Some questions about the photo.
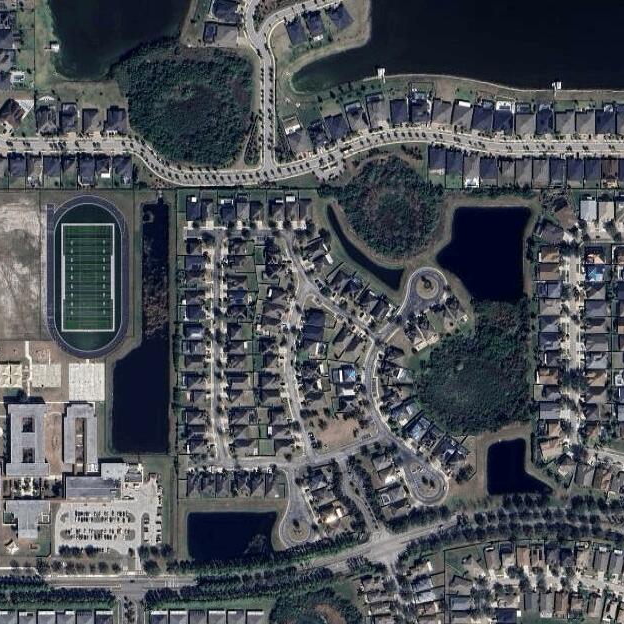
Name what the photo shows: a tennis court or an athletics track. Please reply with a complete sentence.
I can see an athletics track in this picture.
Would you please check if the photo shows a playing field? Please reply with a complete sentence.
Yes, looking at the shot, I can spot a playing field.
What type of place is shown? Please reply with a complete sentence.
The picture captures a residential area.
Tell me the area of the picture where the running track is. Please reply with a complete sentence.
The running track is located in the left region of the scene.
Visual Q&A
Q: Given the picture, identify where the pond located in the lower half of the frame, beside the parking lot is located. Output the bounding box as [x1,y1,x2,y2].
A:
[187,512,279,560]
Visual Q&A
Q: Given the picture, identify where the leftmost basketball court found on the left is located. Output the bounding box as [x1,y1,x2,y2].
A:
[31,364,62,387]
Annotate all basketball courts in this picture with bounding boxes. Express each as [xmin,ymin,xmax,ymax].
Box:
[70,363,104,401]
[31,364,62,387]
